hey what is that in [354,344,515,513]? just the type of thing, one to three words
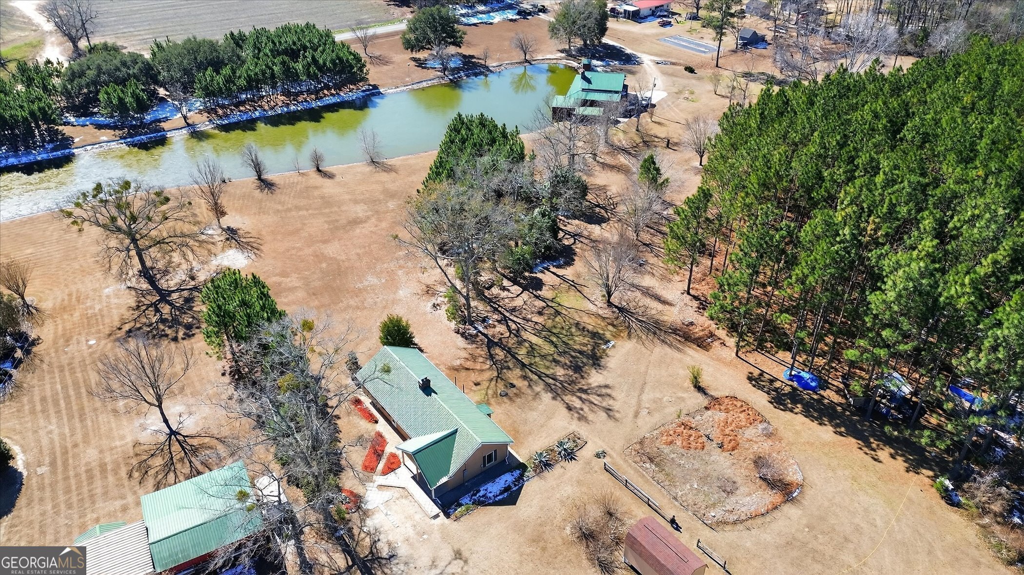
house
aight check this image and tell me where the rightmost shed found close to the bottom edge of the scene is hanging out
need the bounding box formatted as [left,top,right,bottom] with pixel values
[625,518,712,575]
